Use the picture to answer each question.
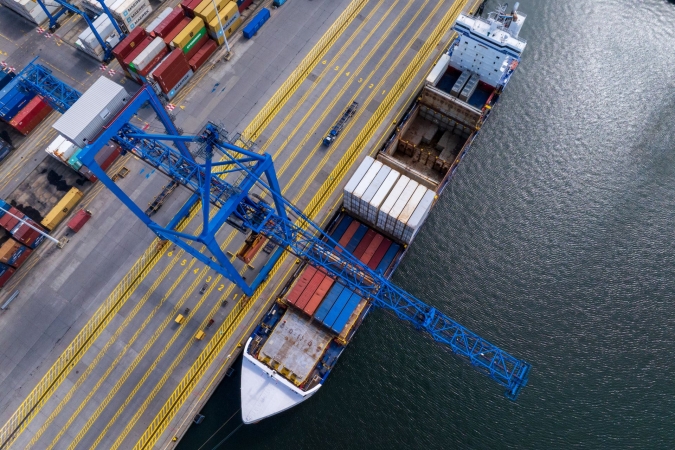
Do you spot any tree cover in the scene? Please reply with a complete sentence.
No, no tree cover is visible.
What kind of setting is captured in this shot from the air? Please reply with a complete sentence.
What you see here is a port.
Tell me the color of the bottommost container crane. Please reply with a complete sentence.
In this view, the bottommost container crane is blue.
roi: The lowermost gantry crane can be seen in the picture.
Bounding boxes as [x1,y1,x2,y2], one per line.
[22,61,531,398]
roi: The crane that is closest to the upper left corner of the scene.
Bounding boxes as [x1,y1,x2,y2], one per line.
[33,0,129,63]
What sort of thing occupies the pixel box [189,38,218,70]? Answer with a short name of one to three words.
shipping container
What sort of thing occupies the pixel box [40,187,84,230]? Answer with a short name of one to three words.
shipping container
